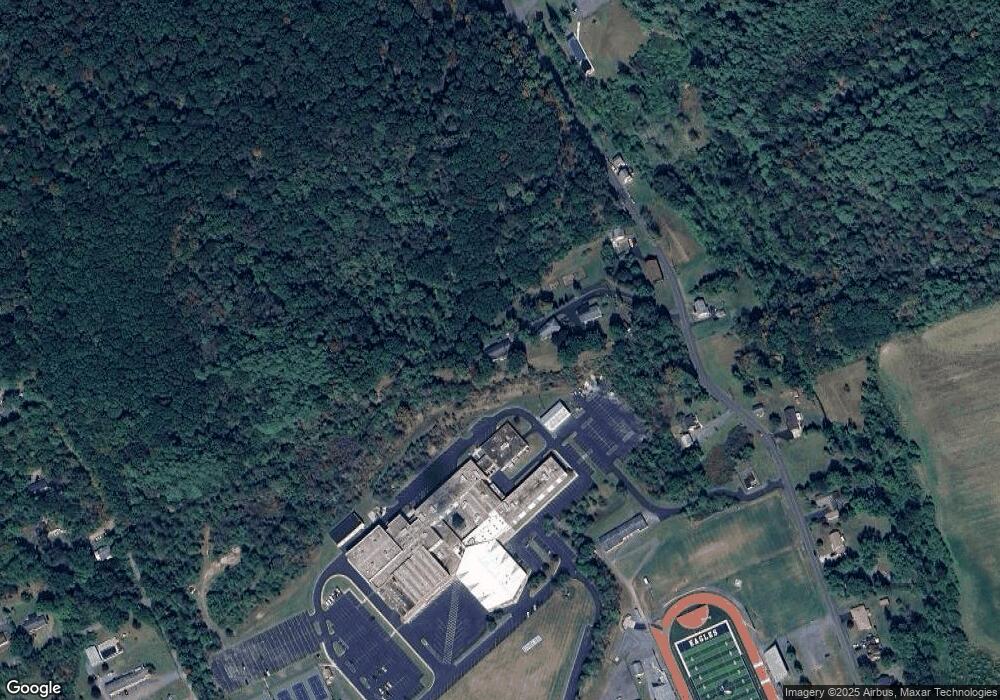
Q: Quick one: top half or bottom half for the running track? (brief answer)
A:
bottom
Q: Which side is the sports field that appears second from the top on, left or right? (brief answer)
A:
right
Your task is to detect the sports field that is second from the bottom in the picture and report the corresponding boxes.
[717,543,826,639]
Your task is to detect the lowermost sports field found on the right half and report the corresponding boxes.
[669,603,767,700]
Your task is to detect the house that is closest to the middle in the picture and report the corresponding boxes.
[484,338,511,362]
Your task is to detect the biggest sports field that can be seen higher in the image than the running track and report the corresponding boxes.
[636,491,798,590]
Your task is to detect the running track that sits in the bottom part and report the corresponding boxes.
[657,592,779,700]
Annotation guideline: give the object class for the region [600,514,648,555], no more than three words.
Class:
shed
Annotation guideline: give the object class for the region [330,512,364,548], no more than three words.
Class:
shed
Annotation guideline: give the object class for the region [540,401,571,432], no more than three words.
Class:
building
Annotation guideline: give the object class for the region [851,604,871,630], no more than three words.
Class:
house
